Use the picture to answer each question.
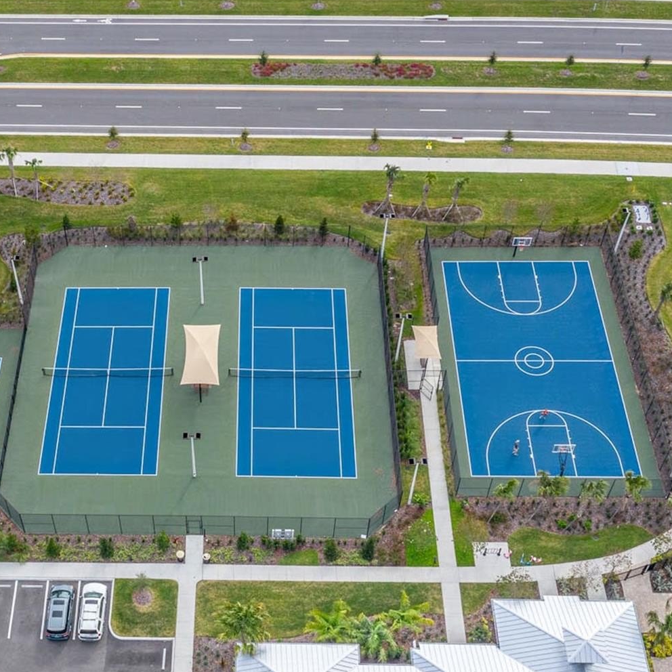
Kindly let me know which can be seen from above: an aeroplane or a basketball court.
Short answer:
basketball court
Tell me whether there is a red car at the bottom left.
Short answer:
No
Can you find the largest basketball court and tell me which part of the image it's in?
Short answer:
right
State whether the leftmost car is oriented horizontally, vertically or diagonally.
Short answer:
vertically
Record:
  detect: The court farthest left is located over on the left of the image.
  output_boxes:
[38,287,174,474]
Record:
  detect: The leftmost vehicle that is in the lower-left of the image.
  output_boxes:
[46,585,74,641]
